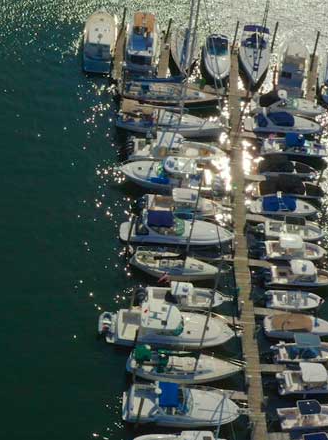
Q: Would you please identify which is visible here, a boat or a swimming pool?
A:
boat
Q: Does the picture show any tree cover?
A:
No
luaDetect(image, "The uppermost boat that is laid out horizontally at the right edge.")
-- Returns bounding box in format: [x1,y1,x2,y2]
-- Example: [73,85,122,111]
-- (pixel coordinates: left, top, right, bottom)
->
[246,87,328,122]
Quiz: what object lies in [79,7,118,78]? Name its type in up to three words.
boat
